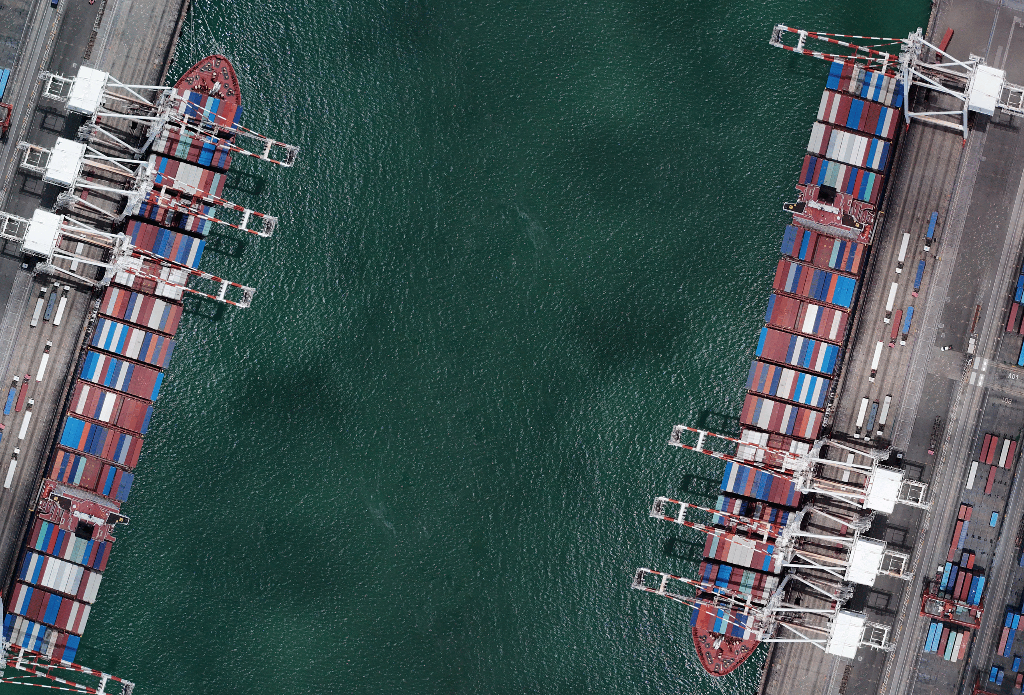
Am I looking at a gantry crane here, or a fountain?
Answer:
gantry crane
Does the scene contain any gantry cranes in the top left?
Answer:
Yes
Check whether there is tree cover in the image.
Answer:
No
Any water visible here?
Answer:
Yes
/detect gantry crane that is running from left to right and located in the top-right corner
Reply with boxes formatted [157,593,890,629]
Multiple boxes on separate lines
[765,21,1024,130]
